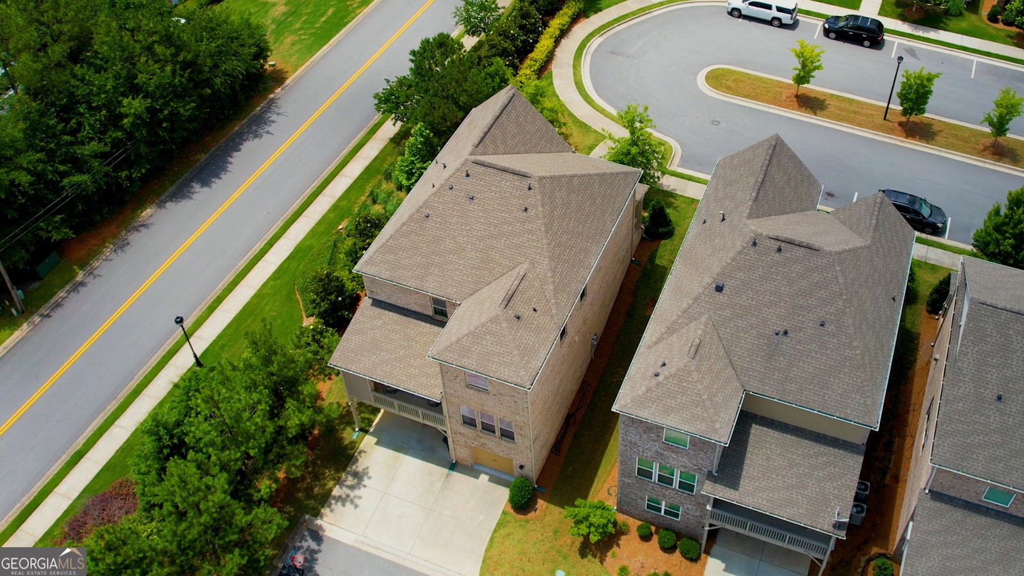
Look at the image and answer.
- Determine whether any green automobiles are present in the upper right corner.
No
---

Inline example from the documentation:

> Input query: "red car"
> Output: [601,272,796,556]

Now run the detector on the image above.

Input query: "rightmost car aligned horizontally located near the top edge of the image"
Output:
[823,16,888,48]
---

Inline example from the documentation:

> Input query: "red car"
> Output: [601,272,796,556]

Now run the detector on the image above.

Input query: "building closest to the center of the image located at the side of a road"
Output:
[326,87,655,490]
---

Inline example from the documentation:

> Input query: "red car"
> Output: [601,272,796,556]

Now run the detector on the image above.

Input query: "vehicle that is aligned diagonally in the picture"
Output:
[876,186,948,233]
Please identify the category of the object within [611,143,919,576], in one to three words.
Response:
house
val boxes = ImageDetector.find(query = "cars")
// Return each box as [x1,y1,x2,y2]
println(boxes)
[725,0,797,27]
[876,186,948,233]
[823,16,888,48]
